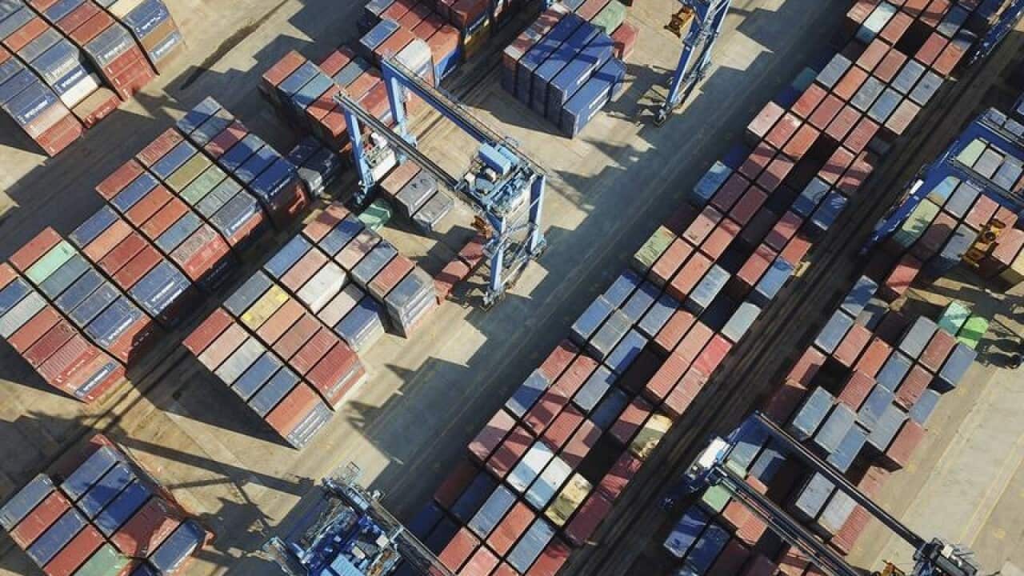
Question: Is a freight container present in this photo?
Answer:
Yes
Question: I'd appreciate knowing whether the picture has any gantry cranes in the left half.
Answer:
Yes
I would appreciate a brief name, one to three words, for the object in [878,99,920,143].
shipping container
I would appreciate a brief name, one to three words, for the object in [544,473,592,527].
shipping container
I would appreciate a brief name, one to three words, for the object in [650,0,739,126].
container crane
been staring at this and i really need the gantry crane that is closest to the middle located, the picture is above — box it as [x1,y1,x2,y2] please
[333,47,562,310]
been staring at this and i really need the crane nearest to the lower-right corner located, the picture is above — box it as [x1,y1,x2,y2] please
[655,404,997,576]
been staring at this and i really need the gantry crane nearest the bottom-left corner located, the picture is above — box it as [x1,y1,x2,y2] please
[251,465,449,576]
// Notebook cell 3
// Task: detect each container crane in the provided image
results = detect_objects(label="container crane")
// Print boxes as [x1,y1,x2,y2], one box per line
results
[251,465,449,576]
[655,404,997,576]
[650,0,739,126]
[860,113,1024,263]
[333,47,562,310]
